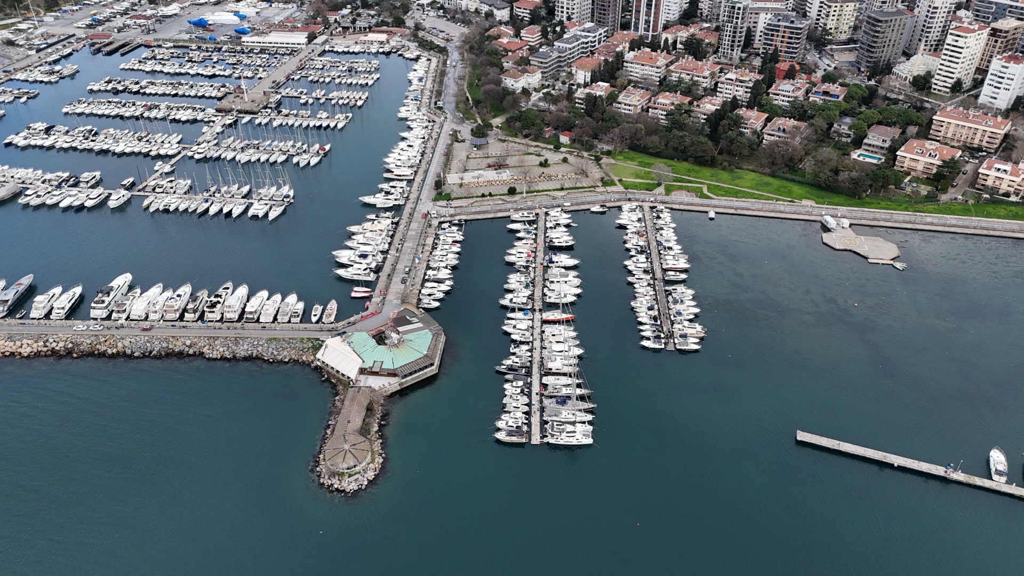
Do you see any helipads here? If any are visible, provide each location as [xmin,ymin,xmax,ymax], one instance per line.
[821,223,900,261]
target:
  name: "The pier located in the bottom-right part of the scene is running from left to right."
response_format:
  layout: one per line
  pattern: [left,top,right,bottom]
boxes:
[795,430,1024,499]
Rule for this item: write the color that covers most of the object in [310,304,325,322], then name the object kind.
white boat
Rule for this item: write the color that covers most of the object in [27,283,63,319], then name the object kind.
white boat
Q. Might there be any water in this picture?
Yes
